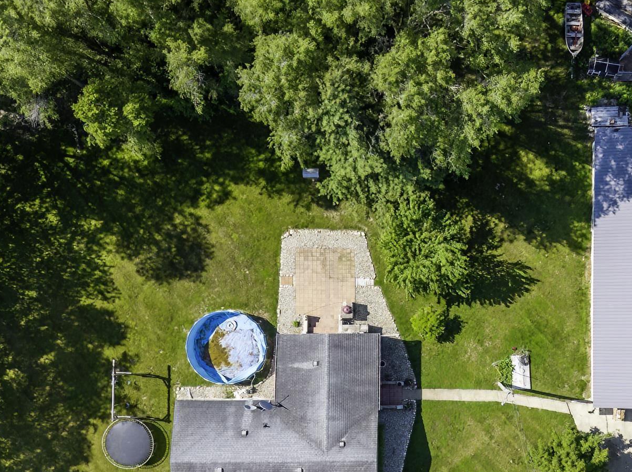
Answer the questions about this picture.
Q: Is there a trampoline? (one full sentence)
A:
Yes, a trampoline can be made out from above.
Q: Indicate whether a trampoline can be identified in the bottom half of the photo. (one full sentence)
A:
Yes, you'll find a trampoline in the bottom half of the photo.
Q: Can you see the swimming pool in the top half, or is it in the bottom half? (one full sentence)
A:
You can find the swimming pool in the bottom half.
